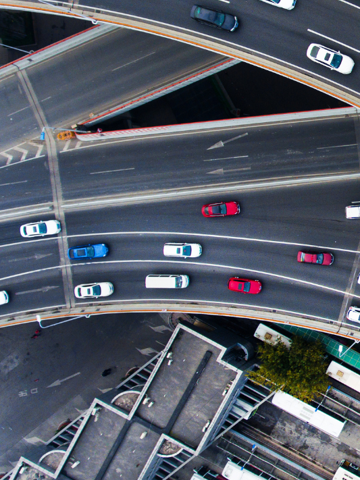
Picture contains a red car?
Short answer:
Yes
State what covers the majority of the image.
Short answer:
paved ground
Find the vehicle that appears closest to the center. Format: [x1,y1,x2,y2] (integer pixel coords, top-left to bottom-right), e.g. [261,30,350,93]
[163,242,204,260]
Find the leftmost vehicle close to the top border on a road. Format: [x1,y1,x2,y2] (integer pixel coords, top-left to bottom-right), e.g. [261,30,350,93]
[190,3,241,33]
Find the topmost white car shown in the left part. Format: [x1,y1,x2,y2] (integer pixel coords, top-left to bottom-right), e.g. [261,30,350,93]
[20,219,63,237]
